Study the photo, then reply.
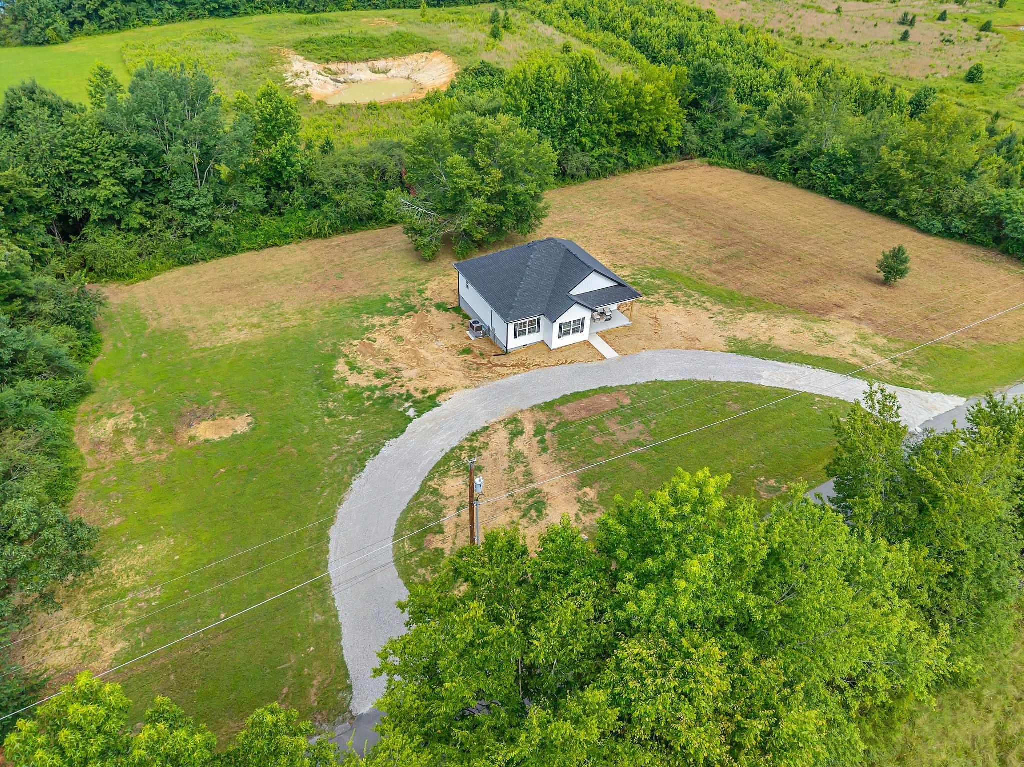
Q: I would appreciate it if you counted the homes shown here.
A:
1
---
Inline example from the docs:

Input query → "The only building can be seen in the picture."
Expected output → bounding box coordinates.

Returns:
[446,234,643,353]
